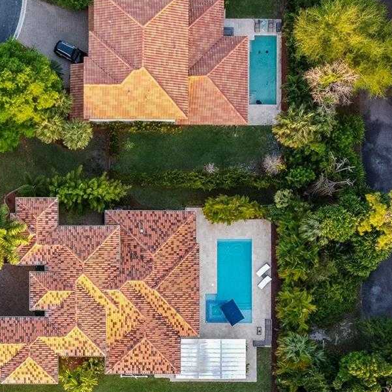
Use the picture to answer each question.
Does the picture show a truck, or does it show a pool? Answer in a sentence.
There is a pool in the scene.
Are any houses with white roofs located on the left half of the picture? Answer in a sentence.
No, on the left half of the picture there is no house with a white roof.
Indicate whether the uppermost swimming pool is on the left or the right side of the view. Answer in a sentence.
The uppermost swimming pool is on the right side of the image.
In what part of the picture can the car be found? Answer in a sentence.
Look in the top left portion of the view to spot the car.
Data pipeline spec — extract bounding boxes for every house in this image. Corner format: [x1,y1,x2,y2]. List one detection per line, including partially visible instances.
[70,0,248,125]
[0,197,201,385]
